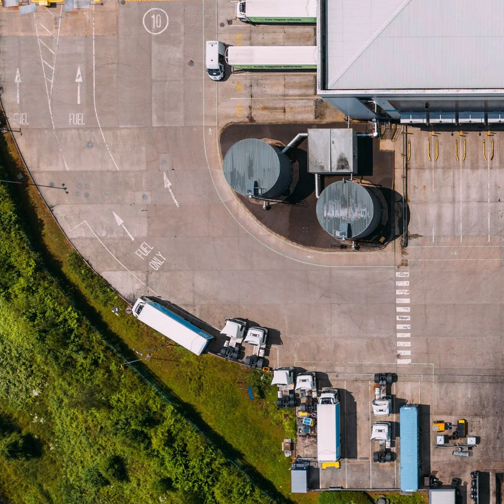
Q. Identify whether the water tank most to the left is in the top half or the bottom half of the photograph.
top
